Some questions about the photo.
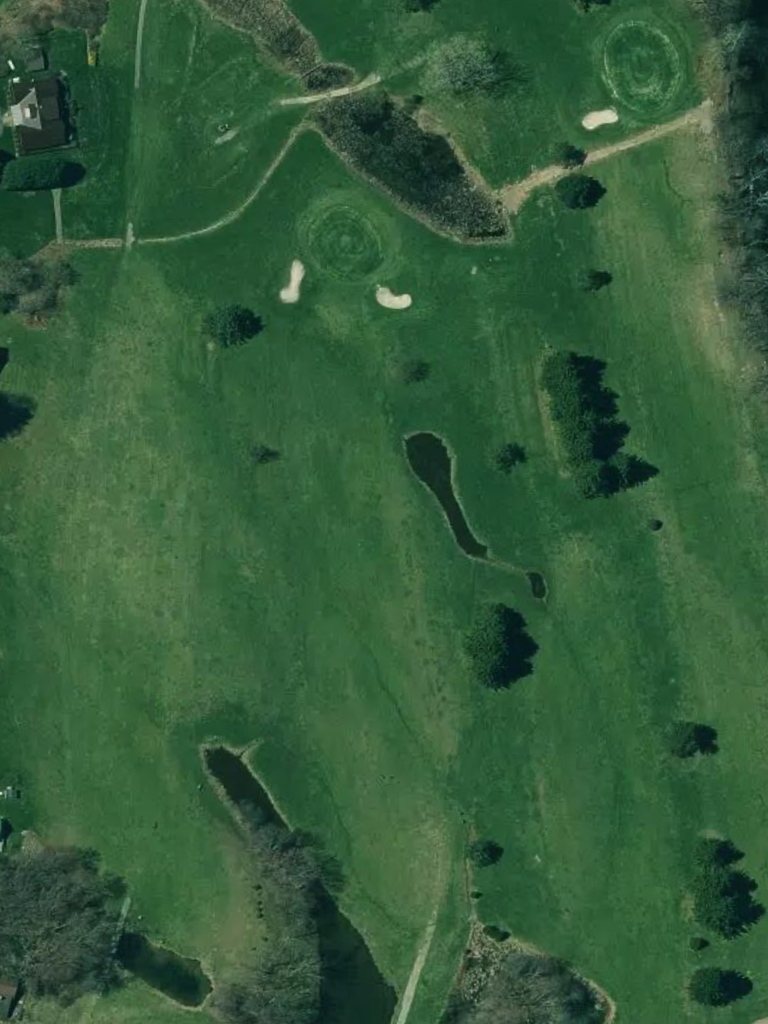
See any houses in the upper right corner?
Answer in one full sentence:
No, I can find no house in the upper right corner.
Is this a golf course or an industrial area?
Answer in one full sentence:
The area seen from above is a golf course.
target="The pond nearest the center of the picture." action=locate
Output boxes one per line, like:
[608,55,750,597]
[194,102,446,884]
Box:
[405,432,489,557]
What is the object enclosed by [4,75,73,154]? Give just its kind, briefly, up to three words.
house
